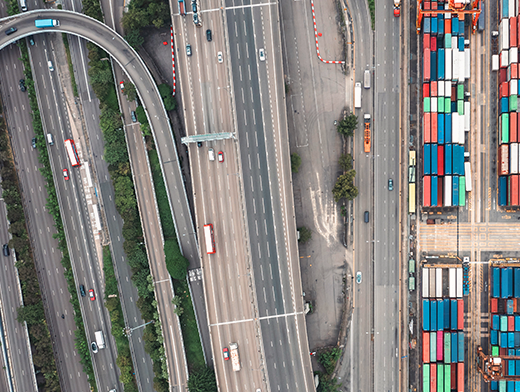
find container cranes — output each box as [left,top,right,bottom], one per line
[480,343,520,383]
[416,0,482,29]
